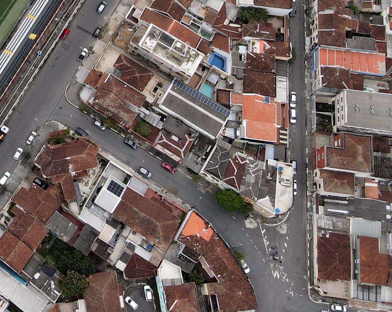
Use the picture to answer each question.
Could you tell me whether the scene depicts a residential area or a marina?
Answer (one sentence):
The area seen from above is a residential area.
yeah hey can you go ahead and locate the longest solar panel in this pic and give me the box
[174,79,229,118]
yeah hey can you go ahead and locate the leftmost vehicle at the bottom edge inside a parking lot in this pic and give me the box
[124,296,138,312]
